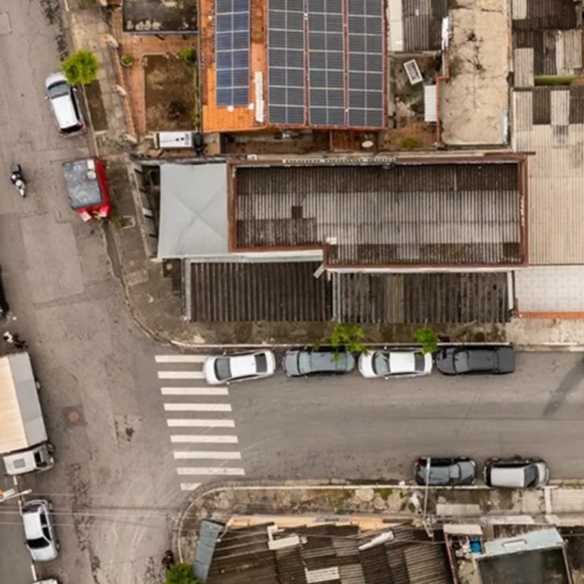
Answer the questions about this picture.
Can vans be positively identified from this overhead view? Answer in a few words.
Yes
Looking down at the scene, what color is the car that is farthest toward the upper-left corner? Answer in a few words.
white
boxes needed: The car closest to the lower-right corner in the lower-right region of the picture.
[483,455,550,493]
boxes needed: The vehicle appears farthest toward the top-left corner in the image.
[42,71,88,138]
